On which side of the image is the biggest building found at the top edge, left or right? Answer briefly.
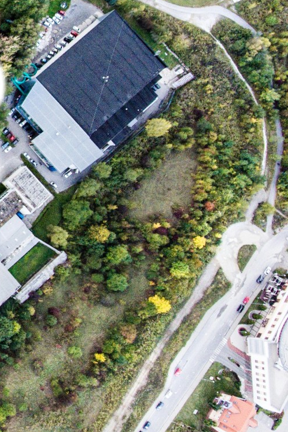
left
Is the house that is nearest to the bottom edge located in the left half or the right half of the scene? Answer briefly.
right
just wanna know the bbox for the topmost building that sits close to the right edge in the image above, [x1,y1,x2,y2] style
[253,276,288,340]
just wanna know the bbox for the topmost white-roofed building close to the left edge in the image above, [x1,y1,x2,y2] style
[1,167,53,213]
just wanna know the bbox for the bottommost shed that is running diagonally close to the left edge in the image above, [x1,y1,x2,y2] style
[13,251,67,303]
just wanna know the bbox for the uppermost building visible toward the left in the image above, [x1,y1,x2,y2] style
[29,10,167,136]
